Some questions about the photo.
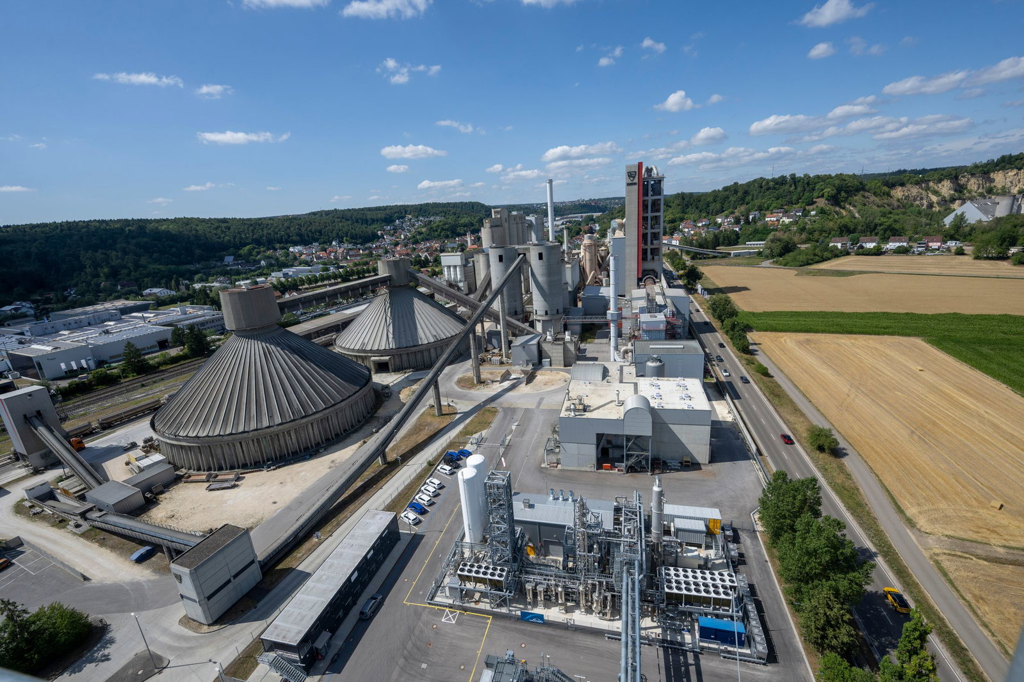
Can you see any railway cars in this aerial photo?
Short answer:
Yes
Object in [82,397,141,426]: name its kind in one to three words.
rail car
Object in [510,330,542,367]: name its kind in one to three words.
house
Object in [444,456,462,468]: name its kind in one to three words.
vehicle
